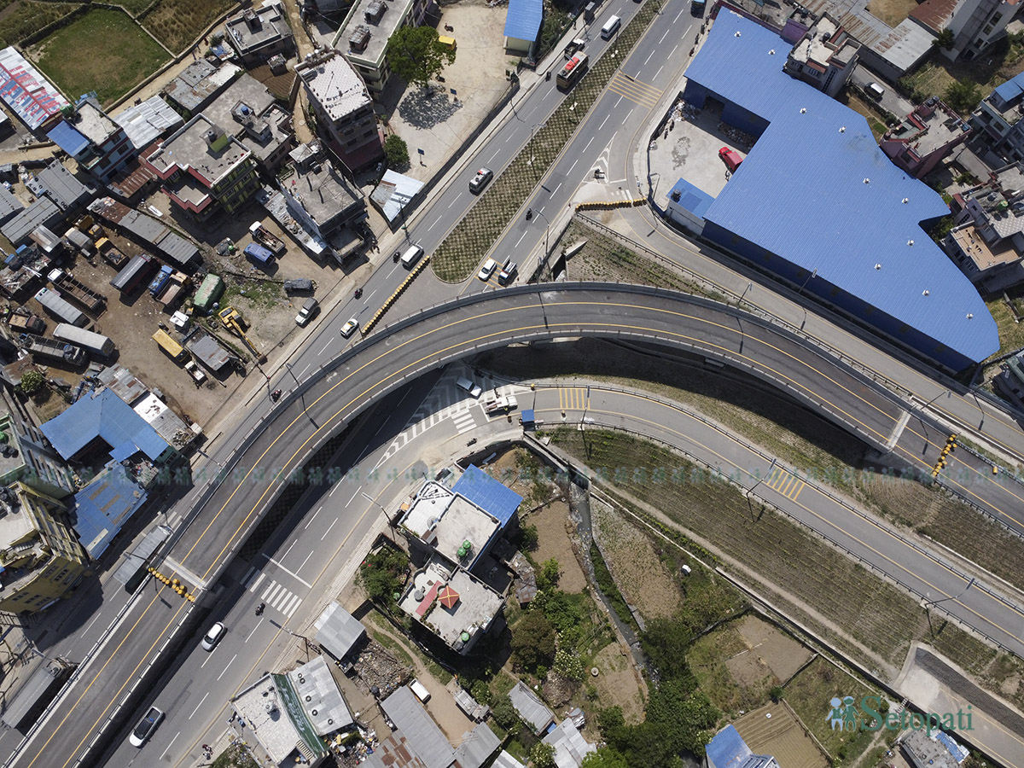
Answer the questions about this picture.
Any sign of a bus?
Yes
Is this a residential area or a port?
residential area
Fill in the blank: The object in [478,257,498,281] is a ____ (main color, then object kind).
white car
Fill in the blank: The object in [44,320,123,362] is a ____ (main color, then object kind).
white truck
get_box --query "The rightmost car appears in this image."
[862,85,887,101]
